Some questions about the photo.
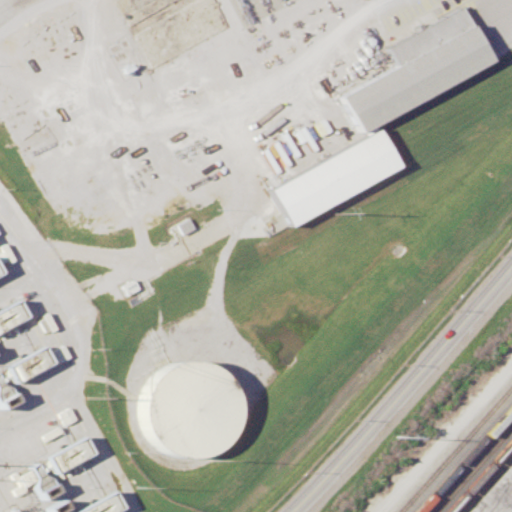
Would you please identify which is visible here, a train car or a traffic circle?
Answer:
train car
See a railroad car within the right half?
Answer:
Yes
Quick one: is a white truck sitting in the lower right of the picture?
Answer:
No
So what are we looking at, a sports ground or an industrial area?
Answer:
industrial area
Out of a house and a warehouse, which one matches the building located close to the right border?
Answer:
warehouse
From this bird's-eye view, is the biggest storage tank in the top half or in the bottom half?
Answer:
bottom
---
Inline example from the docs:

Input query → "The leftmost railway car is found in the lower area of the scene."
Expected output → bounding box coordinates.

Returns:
[414,492,440,512]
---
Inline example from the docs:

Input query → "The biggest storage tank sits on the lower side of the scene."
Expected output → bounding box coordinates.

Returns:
[128,362,246,460]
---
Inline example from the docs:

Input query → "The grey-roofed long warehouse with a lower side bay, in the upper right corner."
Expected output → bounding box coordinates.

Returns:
[339,8,500,131]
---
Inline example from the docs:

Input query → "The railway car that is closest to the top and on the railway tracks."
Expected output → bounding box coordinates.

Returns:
[488,406,512,438]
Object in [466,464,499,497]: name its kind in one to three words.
rail car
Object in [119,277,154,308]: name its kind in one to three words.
shed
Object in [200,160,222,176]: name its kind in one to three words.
vehicle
